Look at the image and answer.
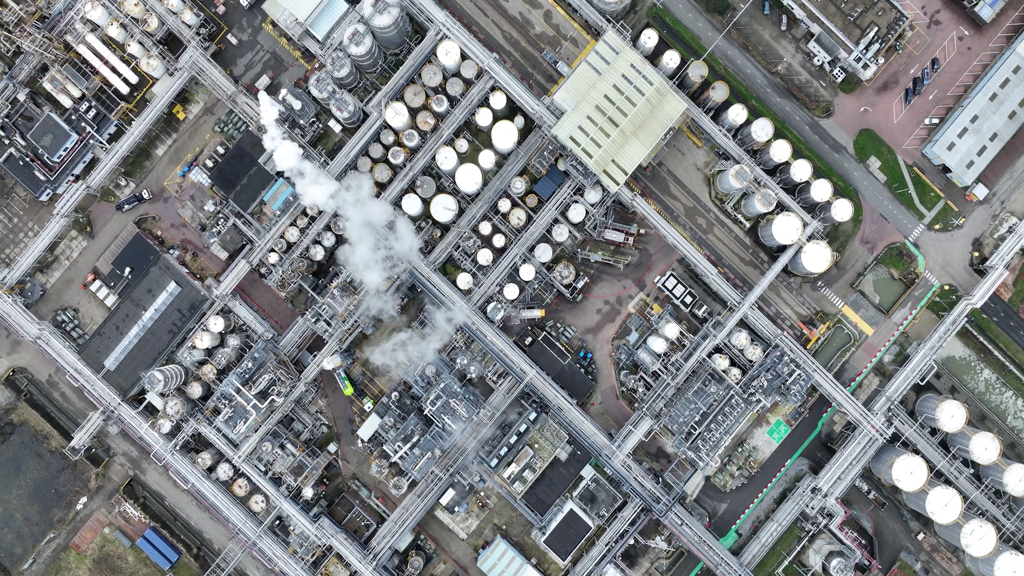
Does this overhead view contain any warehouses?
Yes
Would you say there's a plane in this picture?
No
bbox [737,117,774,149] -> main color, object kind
white storage tank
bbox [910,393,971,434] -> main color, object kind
white storage tank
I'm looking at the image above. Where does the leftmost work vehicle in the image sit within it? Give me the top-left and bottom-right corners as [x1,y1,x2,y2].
[77,272,99,293]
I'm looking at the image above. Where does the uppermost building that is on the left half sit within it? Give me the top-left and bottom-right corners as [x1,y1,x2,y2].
[260,0,351,62]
